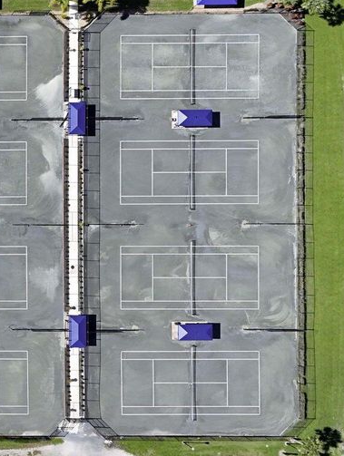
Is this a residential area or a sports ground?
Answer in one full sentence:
The area seen from above is a sports ground.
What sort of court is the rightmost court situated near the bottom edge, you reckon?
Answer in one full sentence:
It looks like the rightmost court situated near the bottom edge is a tennis court.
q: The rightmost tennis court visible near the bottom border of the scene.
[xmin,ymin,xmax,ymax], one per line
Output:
[86,327,297,438]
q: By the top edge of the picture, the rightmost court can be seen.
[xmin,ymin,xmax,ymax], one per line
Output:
[85,14,296,120]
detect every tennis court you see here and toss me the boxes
[85,14,296,120]
[0,328,64,438]
[0,15,64,120]
[85,119,297,229]
[0,120,64,226]
[86,327,297,438]
[0,226,64,330]
[85,221,297,330]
